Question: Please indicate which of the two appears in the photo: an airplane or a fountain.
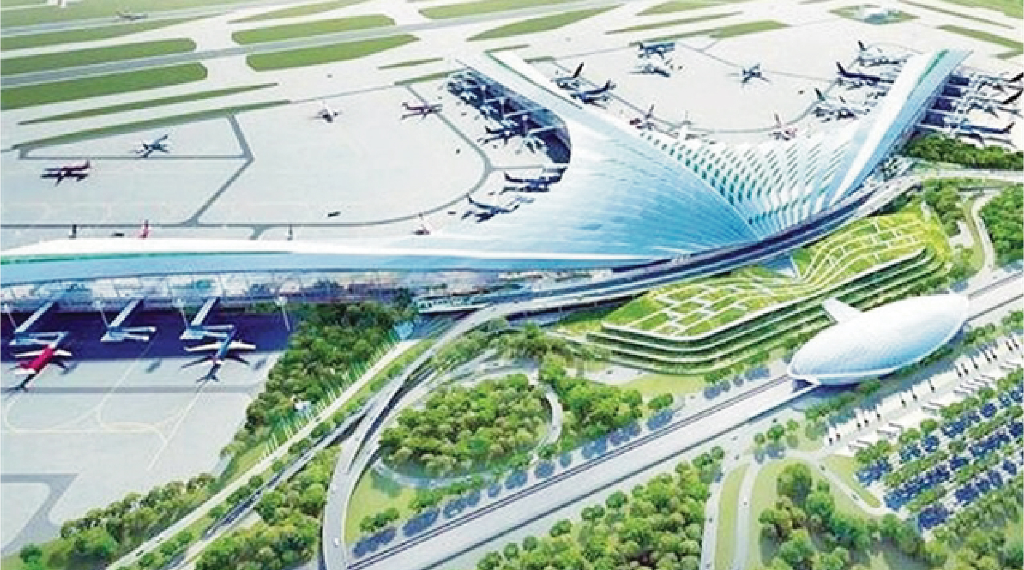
airplane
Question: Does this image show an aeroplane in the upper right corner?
Yes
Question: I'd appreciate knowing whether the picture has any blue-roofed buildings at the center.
Yes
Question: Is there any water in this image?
No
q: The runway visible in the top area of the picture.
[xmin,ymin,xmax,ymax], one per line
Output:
[0,0,644,88]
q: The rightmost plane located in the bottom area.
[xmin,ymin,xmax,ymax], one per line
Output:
[171,328,256,379]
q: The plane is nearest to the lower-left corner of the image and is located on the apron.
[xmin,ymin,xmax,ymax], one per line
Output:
[0,330,79,382]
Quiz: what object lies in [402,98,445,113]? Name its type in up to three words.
airplane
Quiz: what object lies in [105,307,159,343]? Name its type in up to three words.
jet bridge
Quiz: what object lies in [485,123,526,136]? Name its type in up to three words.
airplane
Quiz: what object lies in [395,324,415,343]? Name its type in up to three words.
building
